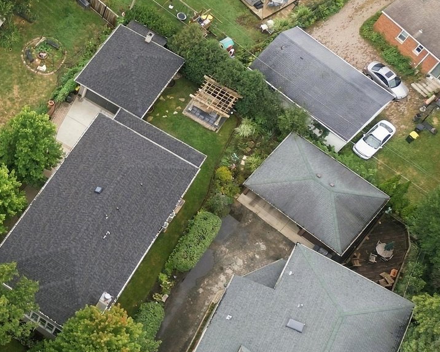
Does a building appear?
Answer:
Yes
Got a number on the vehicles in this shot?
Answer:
2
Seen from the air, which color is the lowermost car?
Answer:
white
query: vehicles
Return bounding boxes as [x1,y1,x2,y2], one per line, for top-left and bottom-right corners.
[361,59,410,104]
[350,119,397,160]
